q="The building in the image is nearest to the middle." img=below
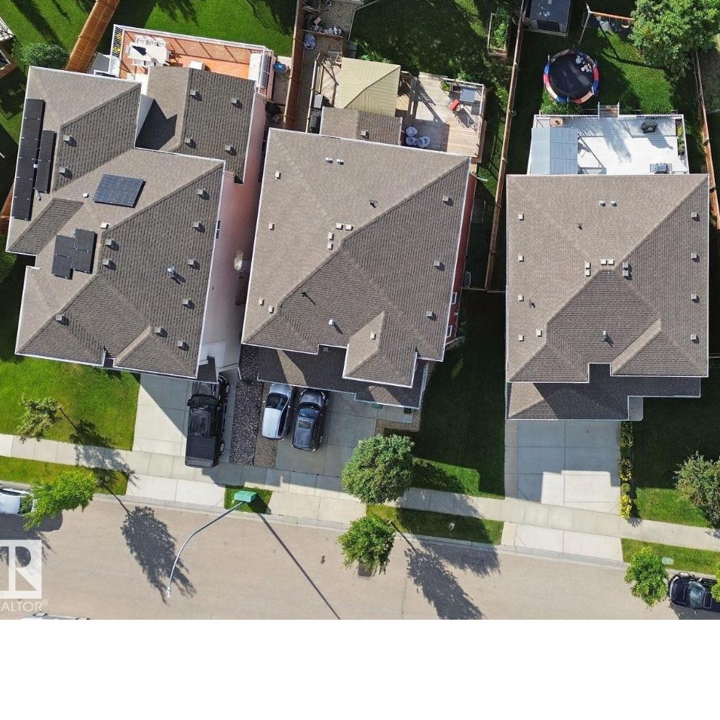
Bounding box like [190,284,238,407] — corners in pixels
[238,106,485,411]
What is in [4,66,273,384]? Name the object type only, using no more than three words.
house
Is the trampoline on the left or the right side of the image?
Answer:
right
